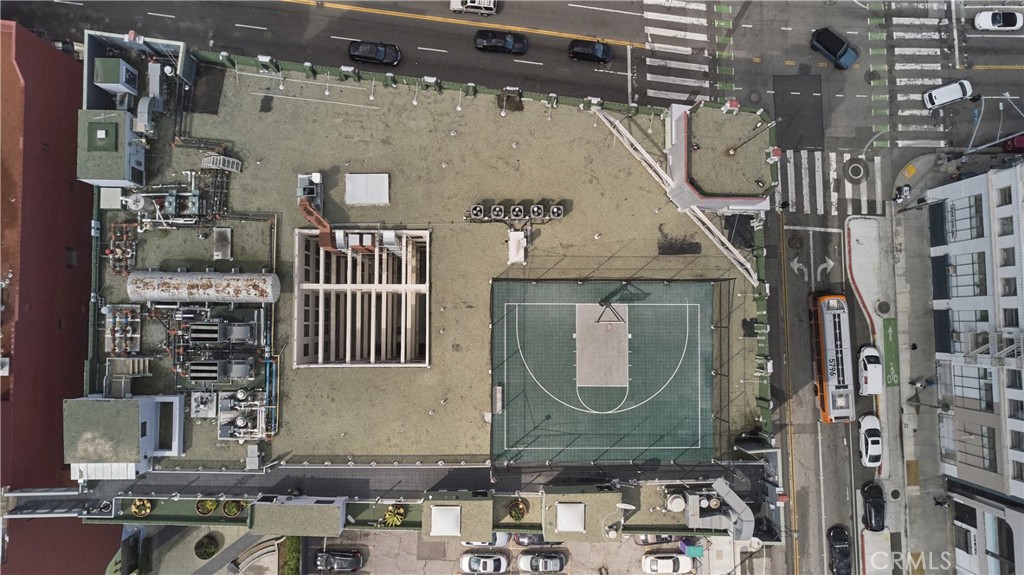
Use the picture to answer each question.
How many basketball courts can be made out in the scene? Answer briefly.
1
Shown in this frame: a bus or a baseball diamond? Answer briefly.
bus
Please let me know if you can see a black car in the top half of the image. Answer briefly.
Yes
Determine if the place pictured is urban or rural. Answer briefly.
urban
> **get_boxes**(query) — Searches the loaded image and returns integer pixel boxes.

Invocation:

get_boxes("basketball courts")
[491,282,713,463]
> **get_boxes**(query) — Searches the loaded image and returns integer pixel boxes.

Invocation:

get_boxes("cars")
[348,40,401,69]
[811,27,855,69]
[823,523,850,575]
[972,8,1020,34]
[461,527,509,551]
[515,527,564,551]
[517,550,565,575]
[461,551,509,575]
[474,30,527,56]
[567,38,612,65]
[641,552,692,575]
[1000,132,1024,156]
[858,480,885,531]
[450,0,498,19]
[921,77,972,113]
[853,347,881,395]
[47,39,84,64]
[316,548,364,574]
